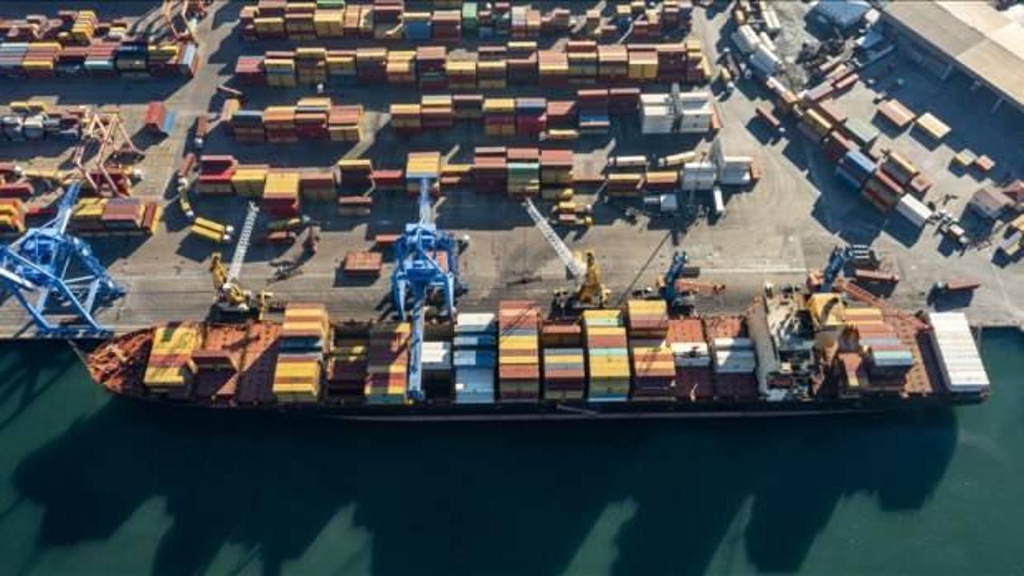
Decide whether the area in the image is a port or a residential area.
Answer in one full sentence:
What you see here is a port.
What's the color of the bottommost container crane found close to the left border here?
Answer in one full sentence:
From above, the bottommost container crane found close to the left border appears blue.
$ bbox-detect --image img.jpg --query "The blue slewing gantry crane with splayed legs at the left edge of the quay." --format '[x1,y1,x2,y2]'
[0,180,134,332]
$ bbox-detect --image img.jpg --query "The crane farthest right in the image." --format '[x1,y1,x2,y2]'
[800,244,929,328]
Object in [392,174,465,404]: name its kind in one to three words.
container crane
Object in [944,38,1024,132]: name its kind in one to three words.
building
